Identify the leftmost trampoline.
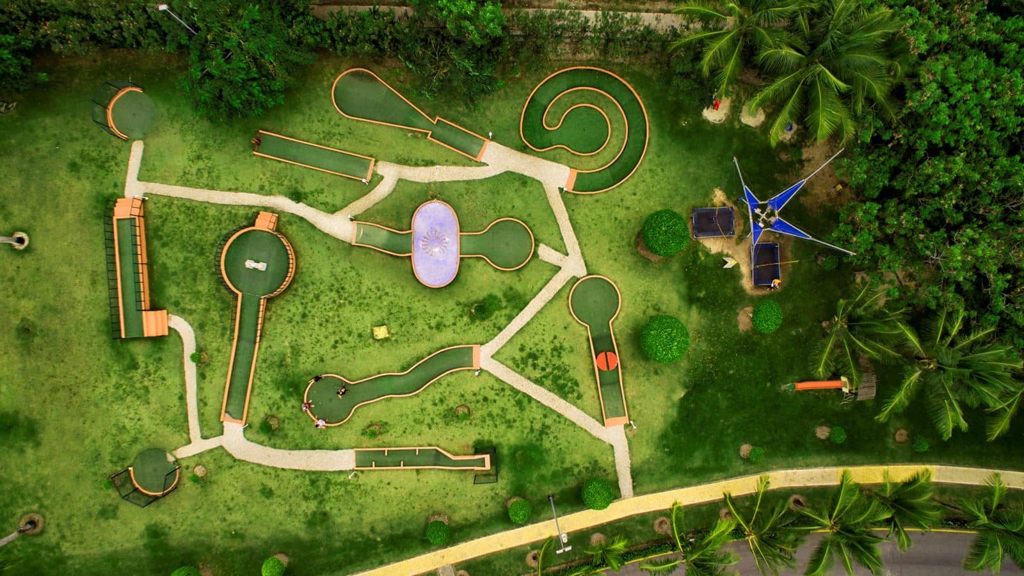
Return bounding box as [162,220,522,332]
[689,206,735,239]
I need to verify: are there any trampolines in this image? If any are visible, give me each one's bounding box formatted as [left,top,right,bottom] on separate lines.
[747,242,781,286]
[689,206,735,239]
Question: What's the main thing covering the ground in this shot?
grass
